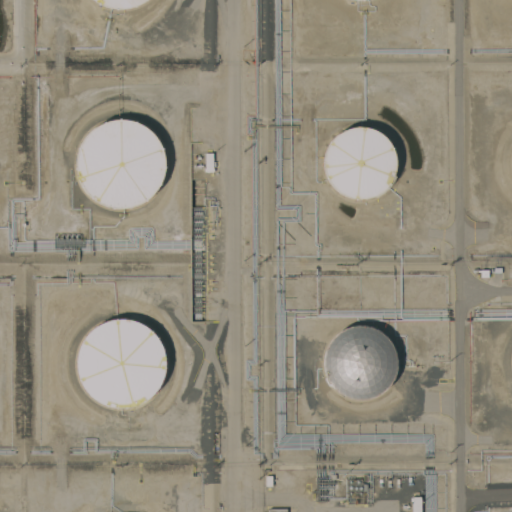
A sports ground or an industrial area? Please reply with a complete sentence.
This image shows an industrial area.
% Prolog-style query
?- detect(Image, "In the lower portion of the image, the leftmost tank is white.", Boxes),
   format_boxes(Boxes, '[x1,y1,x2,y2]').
[76,318,168,411]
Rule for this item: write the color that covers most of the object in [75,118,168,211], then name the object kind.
white storage tank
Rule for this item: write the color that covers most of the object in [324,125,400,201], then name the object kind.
white storage tank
